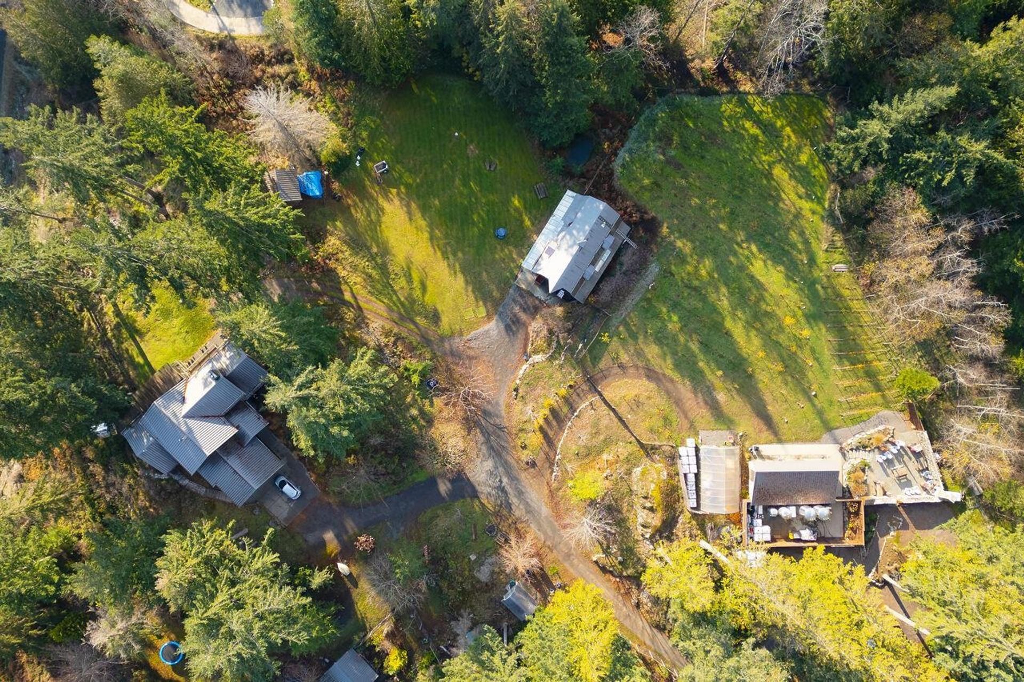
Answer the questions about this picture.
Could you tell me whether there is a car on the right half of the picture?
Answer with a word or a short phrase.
No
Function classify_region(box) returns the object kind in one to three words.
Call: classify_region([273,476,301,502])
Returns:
car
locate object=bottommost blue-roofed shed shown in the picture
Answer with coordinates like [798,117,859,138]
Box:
[319,647,379,682]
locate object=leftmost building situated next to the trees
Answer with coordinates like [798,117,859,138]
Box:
[122,347,285,507]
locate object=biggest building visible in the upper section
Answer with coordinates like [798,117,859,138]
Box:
[521,189,631,303]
